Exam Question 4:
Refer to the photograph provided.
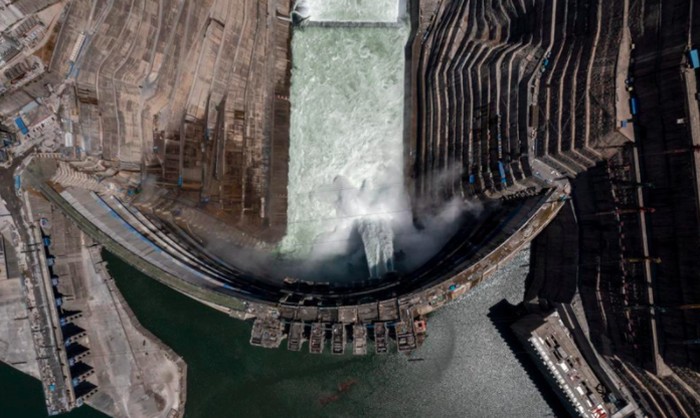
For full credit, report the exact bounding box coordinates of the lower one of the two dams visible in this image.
[40,179,569,354]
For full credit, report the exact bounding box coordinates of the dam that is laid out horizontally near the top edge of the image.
[283,0,409,34]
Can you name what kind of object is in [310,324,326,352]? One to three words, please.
pier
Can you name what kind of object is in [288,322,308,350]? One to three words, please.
pier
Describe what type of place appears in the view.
port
